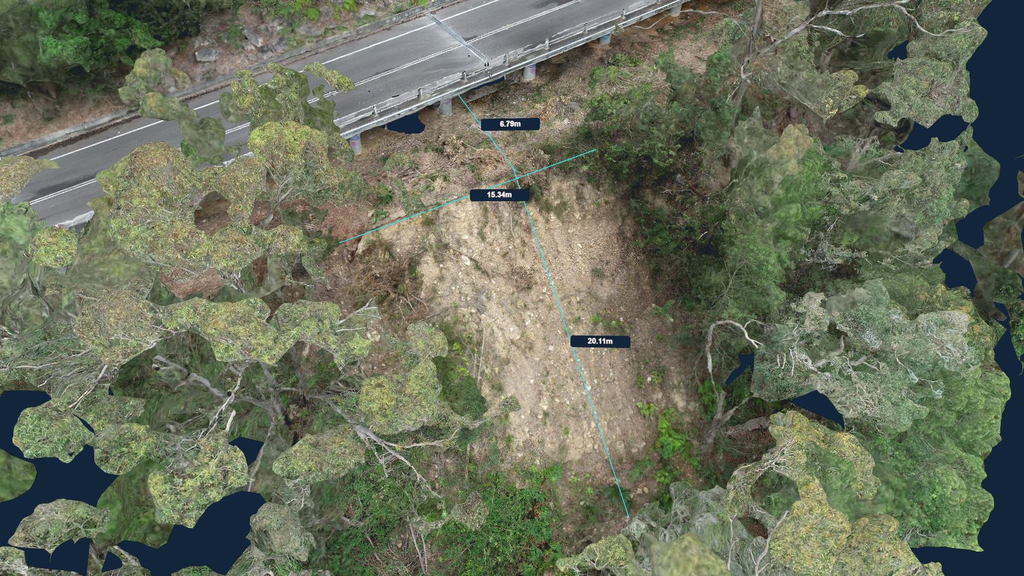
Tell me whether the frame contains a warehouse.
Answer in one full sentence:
No, no warehouse can be seen from above.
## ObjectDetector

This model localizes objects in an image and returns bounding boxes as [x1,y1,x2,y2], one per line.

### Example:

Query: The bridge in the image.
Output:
[320,0,694,155]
